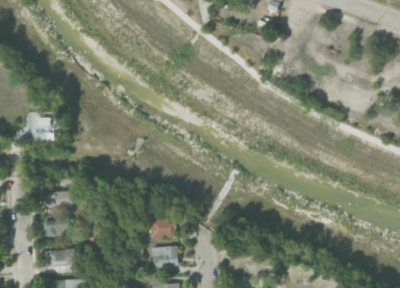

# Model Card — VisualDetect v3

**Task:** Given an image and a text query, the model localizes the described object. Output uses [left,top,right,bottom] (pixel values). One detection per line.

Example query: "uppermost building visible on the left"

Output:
[28,112,54,141]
